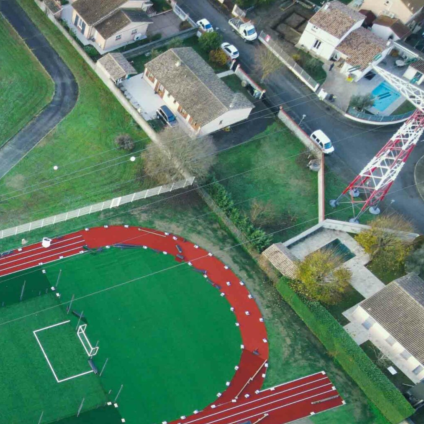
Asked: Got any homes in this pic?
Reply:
Yes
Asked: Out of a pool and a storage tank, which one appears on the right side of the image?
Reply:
pool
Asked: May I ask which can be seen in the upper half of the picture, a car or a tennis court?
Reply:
car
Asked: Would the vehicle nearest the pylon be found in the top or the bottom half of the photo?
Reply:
top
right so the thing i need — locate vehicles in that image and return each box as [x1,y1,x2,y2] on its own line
[218,41,243,61]
[307,125,338,155]
[156,101,179,127]
[193,14,216,34]
[226,18,259,40]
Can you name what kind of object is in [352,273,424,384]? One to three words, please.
house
